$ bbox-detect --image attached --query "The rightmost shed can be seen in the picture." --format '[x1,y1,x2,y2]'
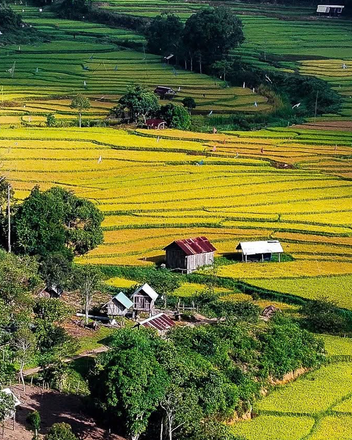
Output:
[317,0,348,18]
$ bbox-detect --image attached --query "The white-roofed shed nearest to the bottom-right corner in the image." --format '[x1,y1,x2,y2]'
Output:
[239,240,286,262]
